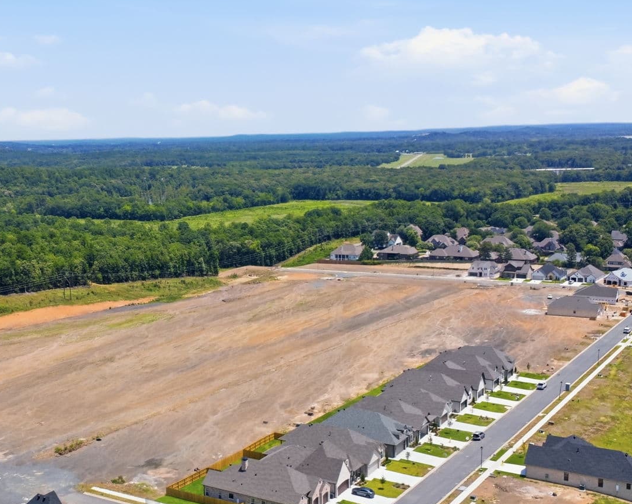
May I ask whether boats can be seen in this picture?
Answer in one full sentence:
No, there's no boat here.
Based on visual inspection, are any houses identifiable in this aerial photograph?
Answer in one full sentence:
Yes, the image includes a house.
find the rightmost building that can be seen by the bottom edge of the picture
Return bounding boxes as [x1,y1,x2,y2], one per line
[523,430,632,504]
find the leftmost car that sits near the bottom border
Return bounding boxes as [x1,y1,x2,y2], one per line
[353,485,379,498]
